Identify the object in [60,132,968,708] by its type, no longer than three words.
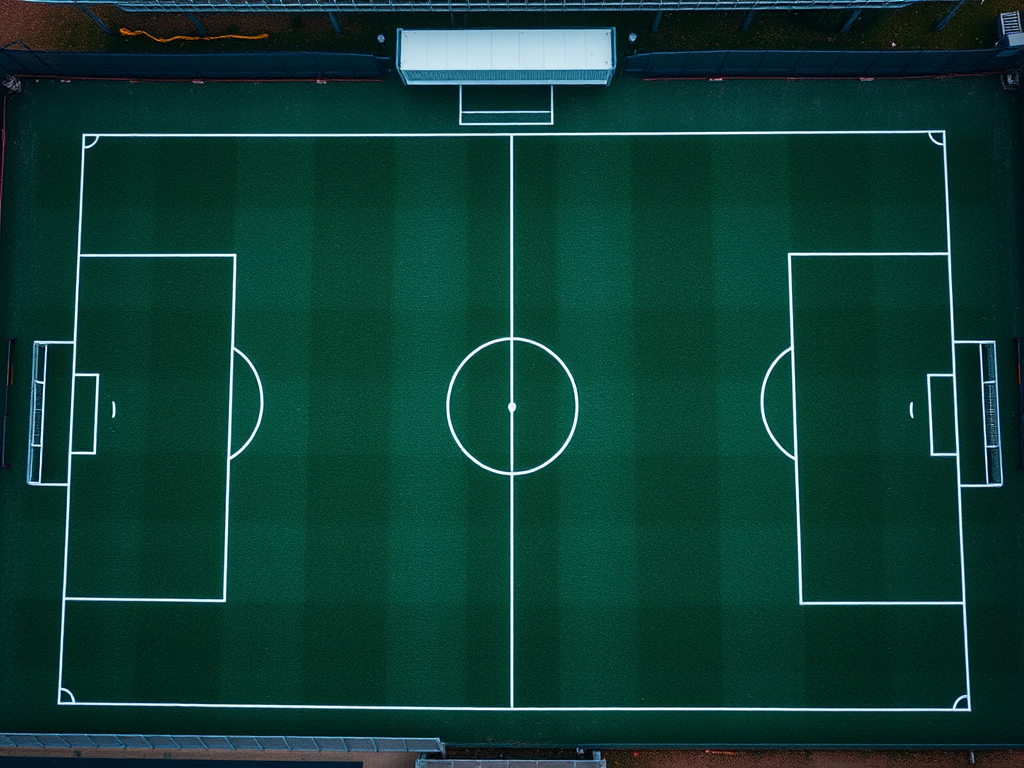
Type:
sports field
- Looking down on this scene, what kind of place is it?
sports ground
